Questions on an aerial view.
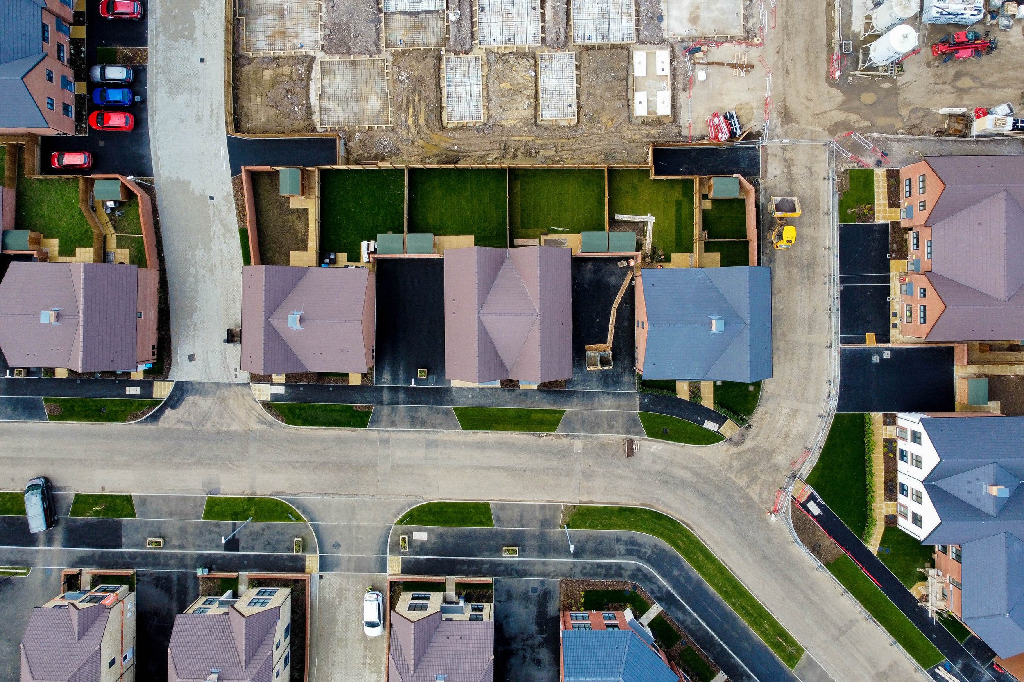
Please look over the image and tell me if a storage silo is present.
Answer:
Yes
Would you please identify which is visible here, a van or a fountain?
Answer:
van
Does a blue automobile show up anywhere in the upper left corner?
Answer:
Yes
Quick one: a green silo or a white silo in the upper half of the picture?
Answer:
white silo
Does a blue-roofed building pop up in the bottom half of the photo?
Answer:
Yes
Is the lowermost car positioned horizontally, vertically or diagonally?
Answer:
vertically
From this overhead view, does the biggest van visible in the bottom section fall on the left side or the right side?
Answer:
left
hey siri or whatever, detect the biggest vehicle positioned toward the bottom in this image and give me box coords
[24,477,58,532]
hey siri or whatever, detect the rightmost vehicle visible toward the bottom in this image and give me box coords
[362,590,383,636]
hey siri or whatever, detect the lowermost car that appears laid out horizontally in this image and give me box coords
[51,149,95,170]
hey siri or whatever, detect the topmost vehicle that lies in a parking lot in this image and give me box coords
[99,0,145,20]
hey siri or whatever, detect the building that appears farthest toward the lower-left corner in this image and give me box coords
[20,586,137,682]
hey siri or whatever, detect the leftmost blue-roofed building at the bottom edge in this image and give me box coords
[561,610,687,682]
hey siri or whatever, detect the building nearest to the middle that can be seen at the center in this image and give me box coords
[444,246,573,383]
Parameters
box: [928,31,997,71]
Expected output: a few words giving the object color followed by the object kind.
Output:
red work vehicle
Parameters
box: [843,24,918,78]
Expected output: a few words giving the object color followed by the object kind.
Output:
white silo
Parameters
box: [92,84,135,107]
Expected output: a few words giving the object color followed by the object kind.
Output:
blue car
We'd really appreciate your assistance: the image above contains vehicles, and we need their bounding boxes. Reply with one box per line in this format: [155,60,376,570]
[51,149,95,170]
[362,590,383,636]
[767,197,801,251]
[24,477,58,532]
[89,108,136,132]
[928,31,997,71]
[99,0,145,20]
[90,62,136,85]
[92,84,135,107]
